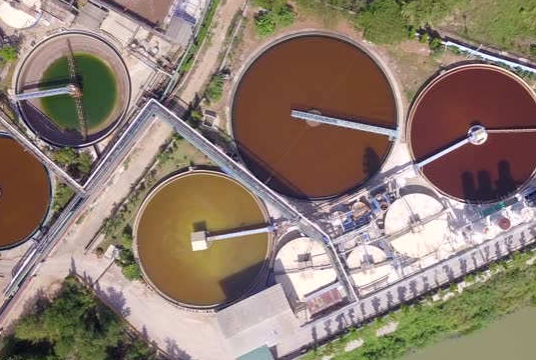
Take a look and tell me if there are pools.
No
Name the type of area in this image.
industrial area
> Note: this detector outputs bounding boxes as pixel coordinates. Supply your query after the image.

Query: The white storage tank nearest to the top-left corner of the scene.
[0,0,48,33]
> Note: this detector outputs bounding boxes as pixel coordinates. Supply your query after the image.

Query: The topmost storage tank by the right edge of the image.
[405,63,536,204]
